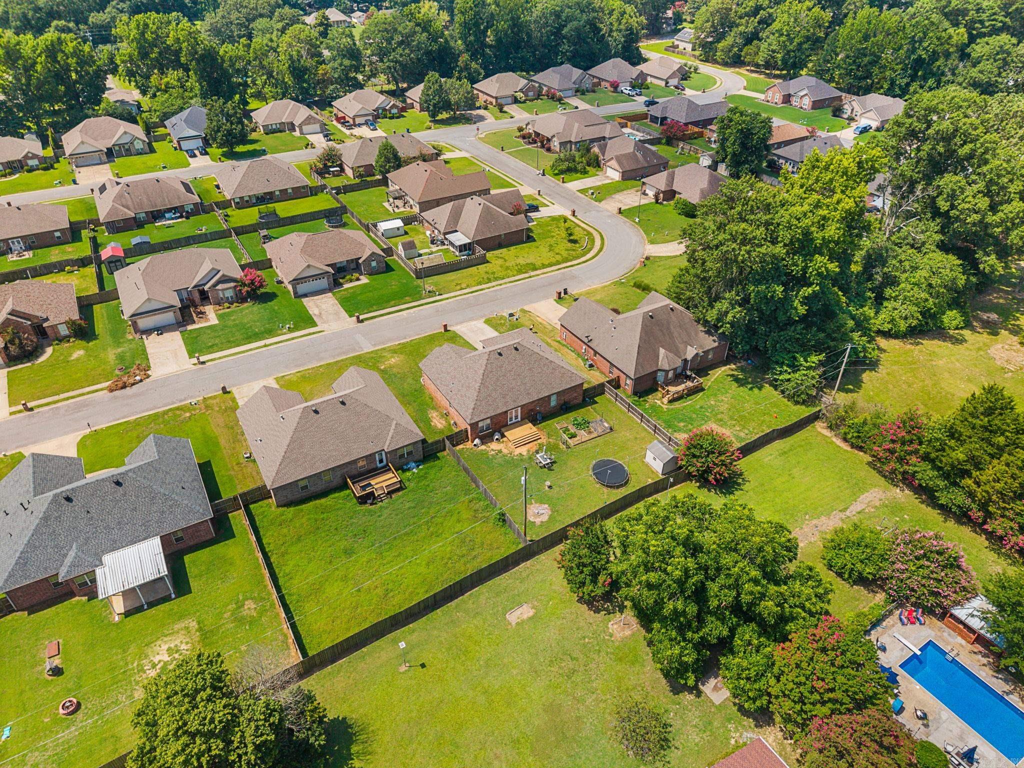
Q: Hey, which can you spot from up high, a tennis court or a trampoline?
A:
trampoline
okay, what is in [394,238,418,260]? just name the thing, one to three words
shed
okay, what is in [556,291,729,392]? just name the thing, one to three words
house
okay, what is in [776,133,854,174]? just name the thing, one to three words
house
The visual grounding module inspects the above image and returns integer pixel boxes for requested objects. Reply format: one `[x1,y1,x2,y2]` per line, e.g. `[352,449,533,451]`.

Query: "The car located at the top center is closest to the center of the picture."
[524,201,544,213]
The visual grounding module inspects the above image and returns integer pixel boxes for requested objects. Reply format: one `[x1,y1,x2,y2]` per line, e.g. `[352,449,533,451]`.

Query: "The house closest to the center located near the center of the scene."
[418,323,587,437]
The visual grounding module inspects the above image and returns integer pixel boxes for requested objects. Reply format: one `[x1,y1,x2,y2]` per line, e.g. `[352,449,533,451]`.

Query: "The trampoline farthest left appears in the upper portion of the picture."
[256,203,281,222]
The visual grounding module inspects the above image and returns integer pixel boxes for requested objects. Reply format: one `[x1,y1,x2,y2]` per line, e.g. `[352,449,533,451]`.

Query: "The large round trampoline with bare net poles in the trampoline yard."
[590,448,631,493]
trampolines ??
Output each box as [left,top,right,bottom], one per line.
[256,203,281,222]
[590,448,631,493]
[323,207,345,224]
